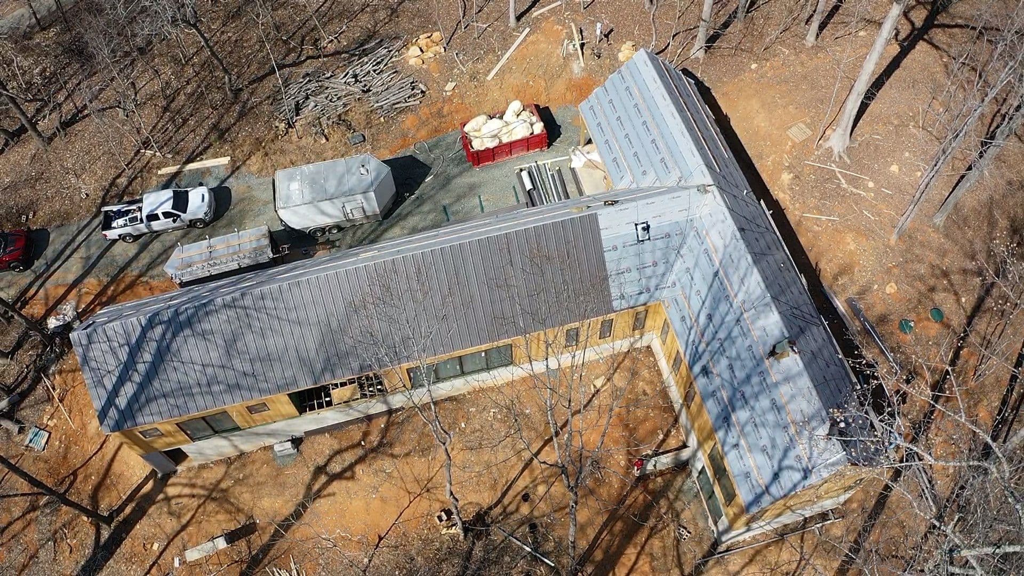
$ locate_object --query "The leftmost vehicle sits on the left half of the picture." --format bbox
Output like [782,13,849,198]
[0,235,38,278]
